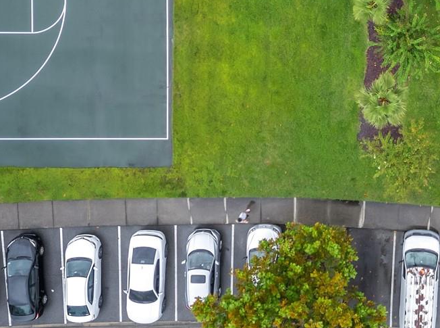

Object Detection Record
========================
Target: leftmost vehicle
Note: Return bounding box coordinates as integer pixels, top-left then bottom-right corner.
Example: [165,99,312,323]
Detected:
[1,235,50,322]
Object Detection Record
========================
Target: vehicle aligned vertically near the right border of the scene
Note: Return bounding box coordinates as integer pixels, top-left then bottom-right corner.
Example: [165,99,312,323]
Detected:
[400,230,440,328]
